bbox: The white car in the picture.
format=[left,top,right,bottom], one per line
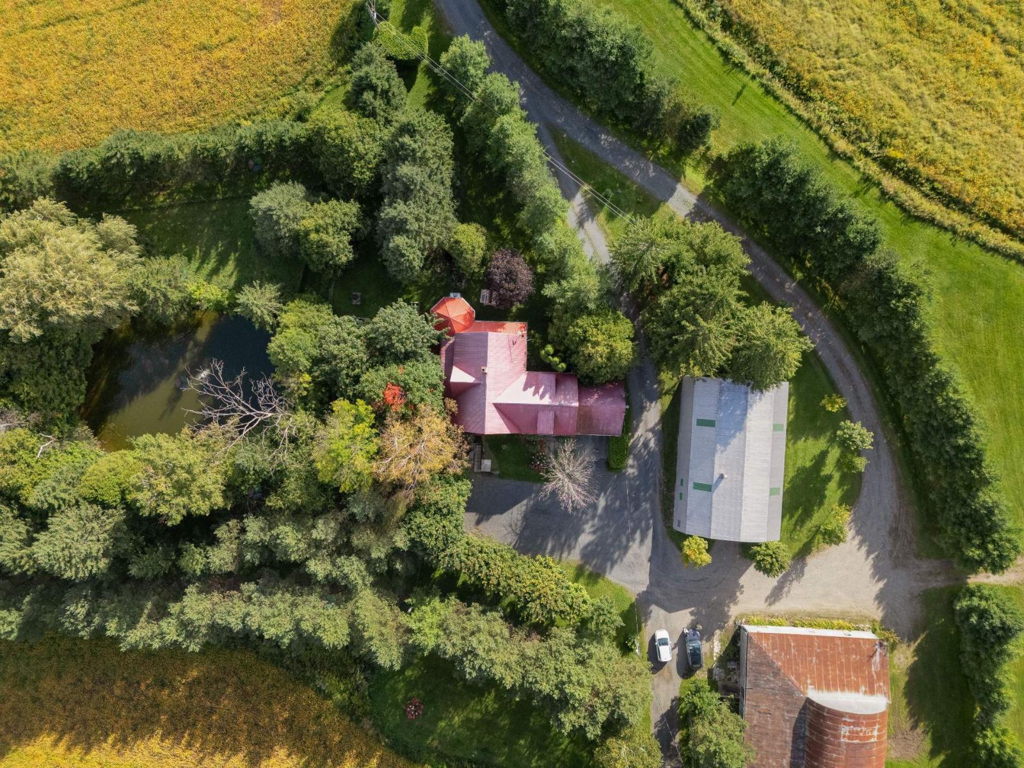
[654,628,671,662]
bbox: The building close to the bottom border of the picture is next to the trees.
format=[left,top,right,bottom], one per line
[736,625,893,768]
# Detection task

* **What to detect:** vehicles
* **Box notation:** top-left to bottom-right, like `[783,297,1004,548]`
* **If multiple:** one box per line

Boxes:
[654,628,671,662]
[684,630,703,668]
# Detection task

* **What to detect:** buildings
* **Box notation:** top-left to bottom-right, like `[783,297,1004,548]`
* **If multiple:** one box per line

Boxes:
[437,319,626,442]
[736,625,893,768]
[672,379,791,542]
